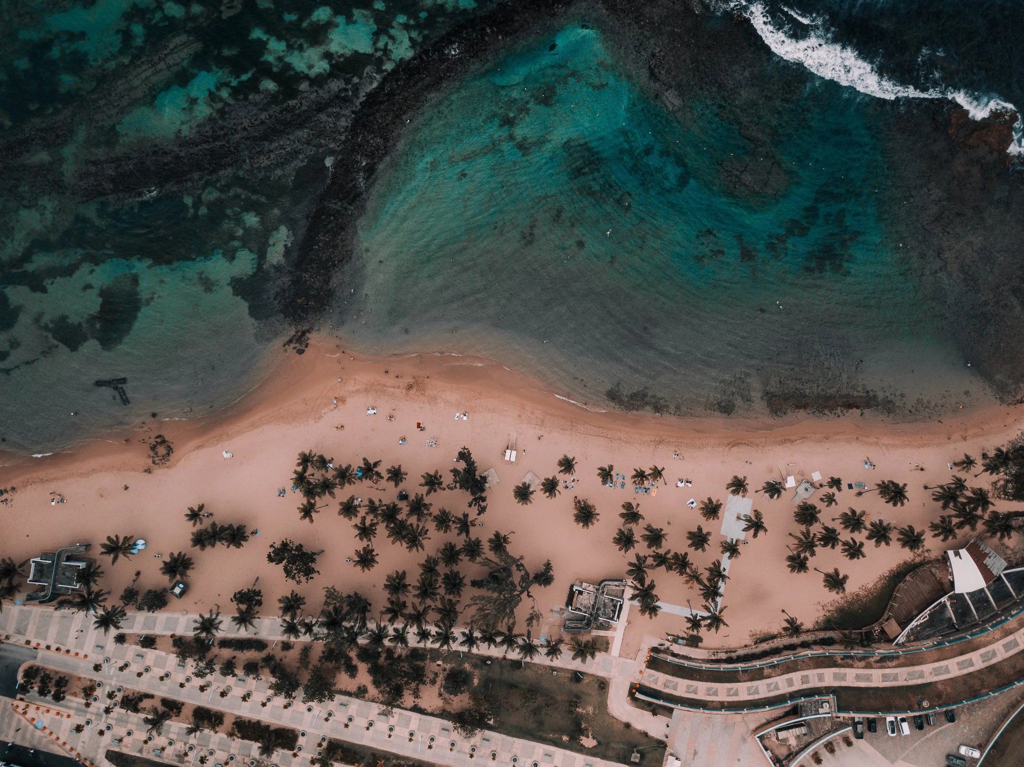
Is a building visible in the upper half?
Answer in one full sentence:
No, the scene shows no building in the upper half.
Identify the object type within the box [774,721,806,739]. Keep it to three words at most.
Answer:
shed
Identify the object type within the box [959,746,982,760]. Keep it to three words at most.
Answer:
car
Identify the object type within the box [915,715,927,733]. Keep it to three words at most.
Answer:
vehicle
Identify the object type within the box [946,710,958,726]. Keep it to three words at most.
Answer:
vehicle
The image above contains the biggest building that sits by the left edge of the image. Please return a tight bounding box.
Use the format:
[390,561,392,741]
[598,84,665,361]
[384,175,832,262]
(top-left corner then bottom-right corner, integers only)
[25,539,102,603]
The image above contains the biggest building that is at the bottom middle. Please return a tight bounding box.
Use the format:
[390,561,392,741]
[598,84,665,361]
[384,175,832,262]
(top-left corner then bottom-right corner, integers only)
[559,574,626,632]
